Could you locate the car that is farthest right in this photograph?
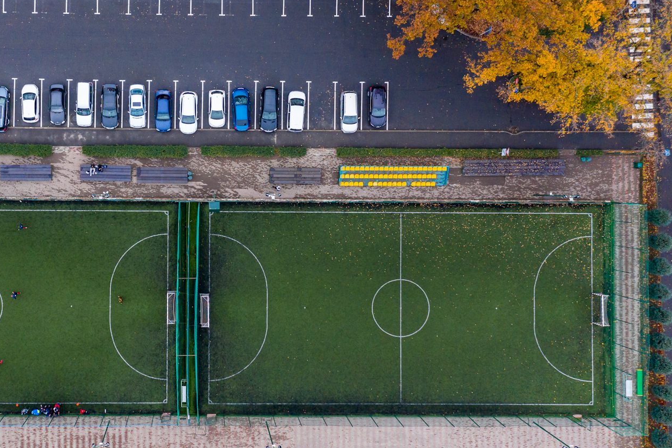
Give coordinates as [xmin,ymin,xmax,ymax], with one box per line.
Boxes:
[366,86,388,128]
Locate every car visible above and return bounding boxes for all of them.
[366,86,388,128]
[206,90,227,128]
[259,87,281,133]
[127,84,148,129]
[19,84,41,123]
[230,88,253,132]
[0,86,12,133]
[153,90,174,133]
[286,91,308,133]
[177,91,199,134]
[339,91,361,134]
[99,84,121,130]
[46,84,67,126]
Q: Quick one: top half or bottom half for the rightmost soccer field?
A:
bottom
